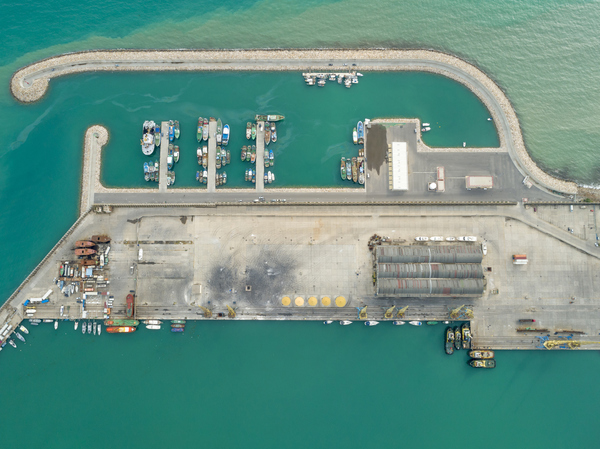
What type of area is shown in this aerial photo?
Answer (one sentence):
This image shows a port.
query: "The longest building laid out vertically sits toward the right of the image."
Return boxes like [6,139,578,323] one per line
[388,142,408,191]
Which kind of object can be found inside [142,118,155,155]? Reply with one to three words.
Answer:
boat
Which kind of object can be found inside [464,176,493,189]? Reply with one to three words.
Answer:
building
